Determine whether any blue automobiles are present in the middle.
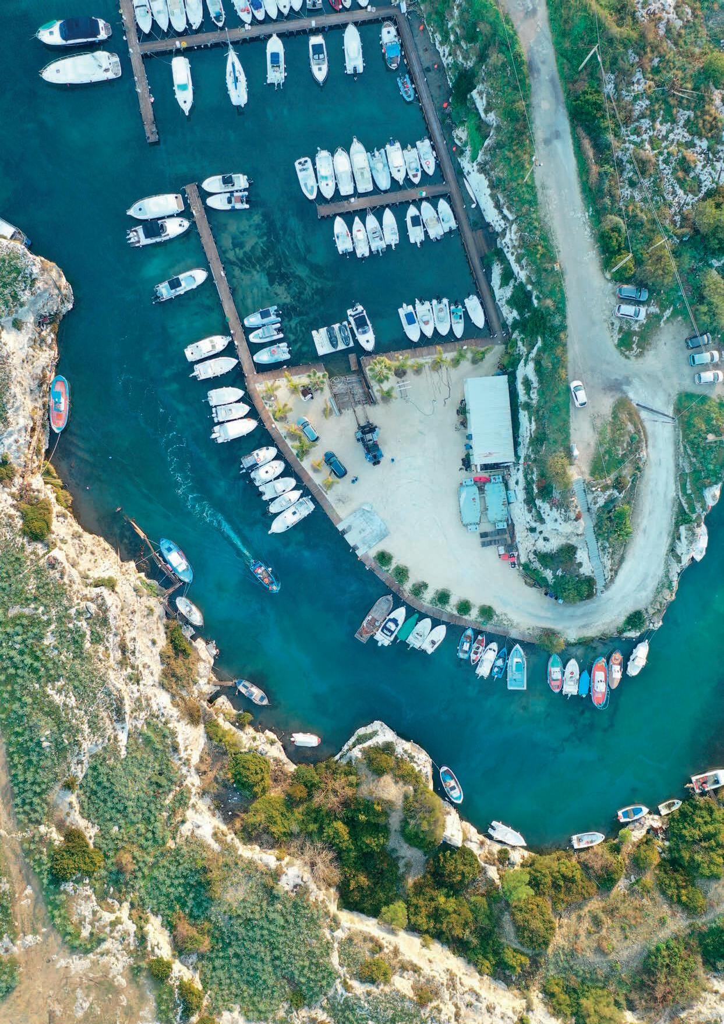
Yes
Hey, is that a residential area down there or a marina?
marina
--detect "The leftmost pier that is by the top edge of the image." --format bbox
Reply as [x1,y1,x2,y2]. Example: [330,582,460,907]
[120,0,158,143]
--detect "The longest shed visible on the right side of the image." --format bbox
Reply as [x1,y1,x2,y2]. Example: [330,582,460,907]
[464,375,514,472]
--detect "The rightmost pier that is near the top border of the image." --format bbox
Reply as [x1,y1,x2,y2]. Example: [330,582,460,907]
[399,10,501,338]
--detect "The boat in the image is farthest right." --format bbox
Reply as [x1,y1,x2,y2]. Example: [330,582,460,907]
[689,765,724,793]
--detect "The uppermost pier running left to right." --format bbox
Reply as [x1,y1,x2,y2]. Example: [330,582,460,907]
[141,7,400,56]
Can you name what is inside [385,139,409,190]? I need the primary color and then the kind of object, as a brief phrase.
white boat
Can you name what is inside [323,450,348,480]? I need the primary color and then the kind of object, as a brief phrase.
blue car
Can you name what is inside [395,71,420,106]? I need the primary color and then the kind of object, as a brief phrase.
blue boat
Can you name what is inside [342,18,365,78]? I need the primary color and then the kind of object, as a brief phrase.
white boat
